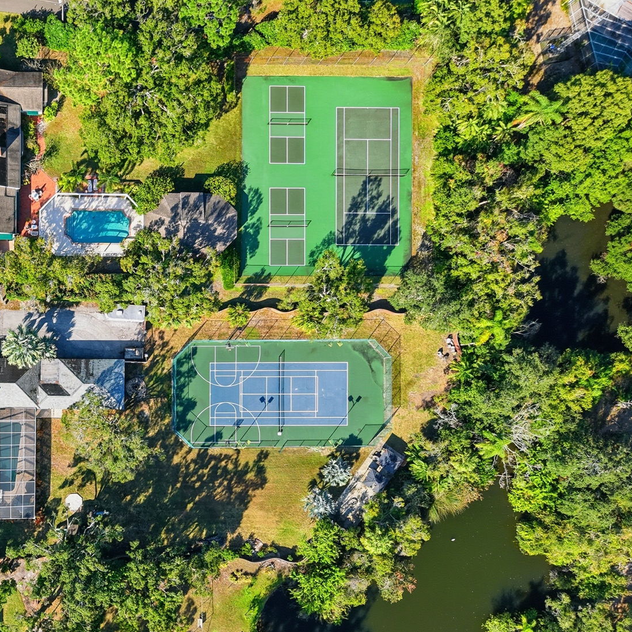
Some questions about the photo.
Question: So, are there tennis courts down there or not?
Yes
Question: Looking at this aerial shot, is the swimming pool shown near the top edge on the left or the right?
right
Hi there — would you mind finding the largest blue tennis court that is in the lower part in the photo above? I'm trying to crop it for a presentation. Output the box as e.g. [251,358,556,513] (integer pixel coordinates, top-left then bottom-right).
[210,363,348,426]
